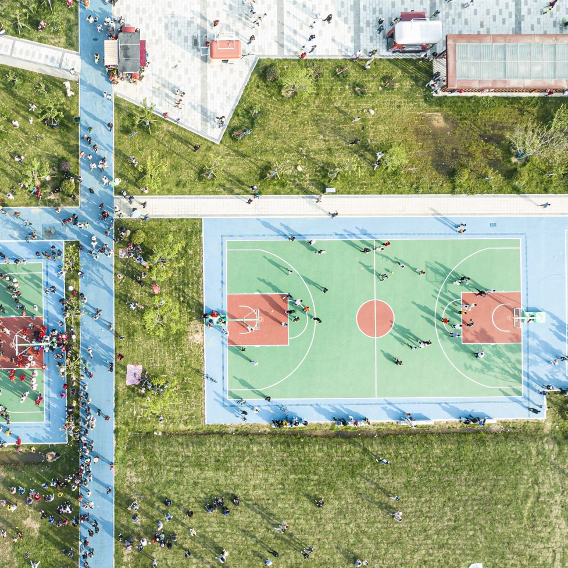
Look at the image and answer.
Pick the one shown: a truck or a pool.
truck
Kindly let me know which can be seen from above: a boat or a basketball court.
basketball court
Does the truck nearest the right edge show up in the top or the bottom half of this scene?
top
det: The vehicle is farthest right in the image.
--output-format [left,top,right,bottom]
[375,14,440,53]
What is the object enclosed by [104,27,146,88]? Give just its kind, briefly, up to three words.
truck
